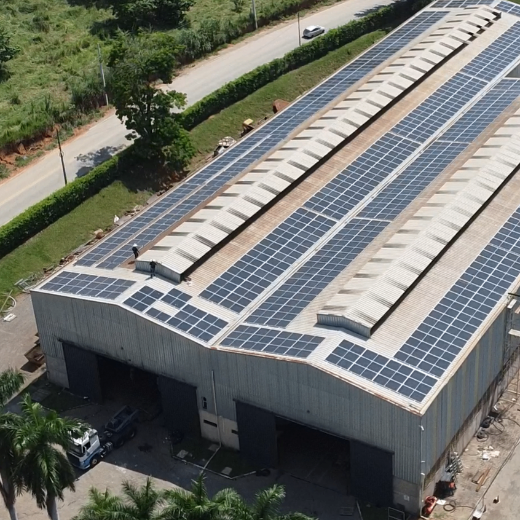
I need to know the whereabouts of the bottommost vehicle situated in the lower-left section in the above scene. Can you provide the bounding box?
[67,404,152,475]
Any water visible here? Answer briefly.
No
